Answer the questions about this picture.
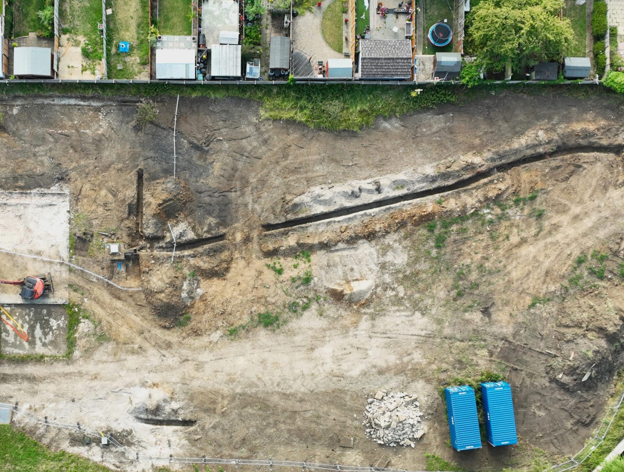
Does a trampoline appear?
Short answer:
Yes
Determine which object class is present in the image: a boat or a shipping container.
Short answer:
shipping container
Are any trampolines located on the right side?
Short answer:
Yes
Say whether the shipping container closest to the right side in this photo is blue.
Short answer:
Yes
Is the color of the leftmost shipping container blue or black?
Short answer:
blue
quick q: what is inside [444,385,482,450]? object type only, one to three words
shipping container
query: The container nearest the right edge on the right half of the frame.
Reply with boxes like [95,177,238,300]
[479,382,517,446]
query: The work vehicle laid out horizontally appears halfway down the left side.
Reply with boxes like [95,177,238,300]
[0,274,51,295]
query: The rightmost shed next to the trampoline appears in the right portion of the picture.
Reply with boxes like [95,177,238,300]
[431,53,463,76]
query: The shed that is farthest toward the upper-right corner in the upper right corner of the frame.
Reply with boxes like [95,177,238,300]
[558,57,594,79]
